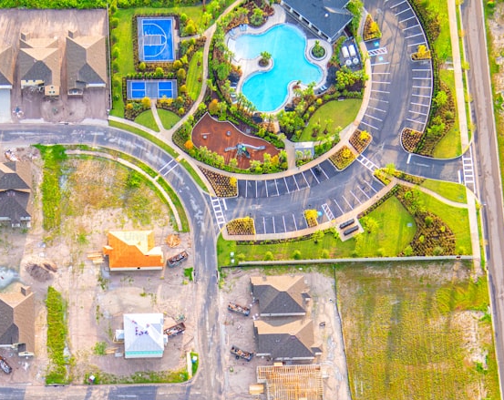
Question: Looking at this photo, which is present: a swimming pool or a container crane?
swimming pool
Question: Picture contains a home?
Yes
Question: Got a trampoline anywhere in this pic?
No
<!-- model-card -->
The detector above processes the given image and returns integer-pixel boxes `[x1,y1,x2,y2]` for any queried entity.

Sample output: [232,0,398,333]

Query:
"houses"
[0,46,12,92]
[0,159,31,230]
[0,284,34,358]
[18,31,60,98]
[114,313,169,358]
[103,231,163,274]
[250,276,312,318]
[255,366,325,400]
[253,320,322,364]
[64,29,107,98]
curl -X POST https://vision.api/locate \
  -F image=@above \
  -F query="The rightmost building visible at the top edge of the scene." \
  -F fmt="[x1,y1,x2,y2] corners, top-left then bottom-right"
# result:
[273,0,372,45]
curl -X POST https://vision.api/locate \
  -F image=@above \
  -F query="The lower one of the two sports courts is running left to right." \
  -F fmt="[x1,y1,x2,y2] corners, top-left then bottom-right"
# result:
[126,79,177,99]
